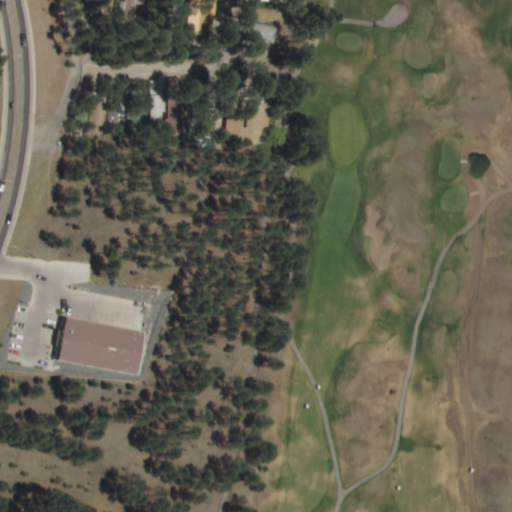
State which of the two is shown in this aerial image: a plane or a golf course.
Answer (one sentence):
Looking from above, you can make out a golf course.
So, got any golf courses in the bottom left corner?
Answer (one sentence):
No, looking in the bottom left corner, there is no golf course.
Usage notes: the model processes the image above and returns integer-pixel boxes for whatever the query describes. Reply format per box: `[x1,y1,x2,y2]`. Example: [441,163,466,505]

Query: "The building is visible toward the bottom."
[54,317,146,376]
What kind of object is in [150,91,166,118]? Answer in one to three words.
house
